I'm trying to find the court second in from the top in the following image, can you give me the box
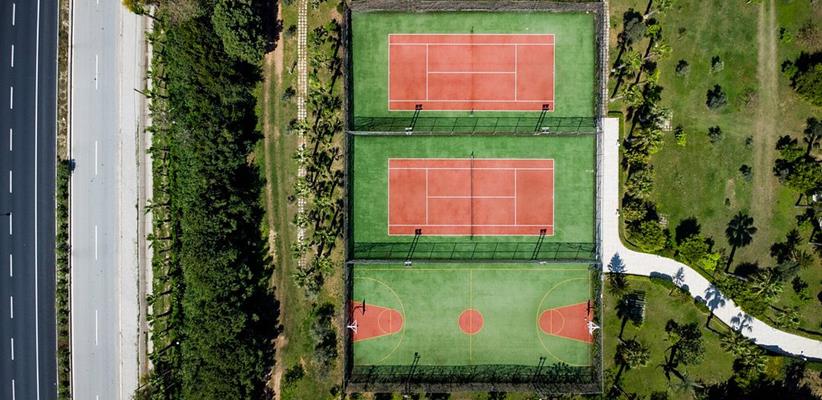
[349,135,597,261]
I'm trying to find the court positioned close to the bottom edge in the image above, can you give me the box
[349,264,597,385]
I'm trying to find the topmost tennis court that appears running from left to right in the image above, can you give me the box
[349,10,597,132]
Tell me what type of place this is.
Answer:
sports ground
